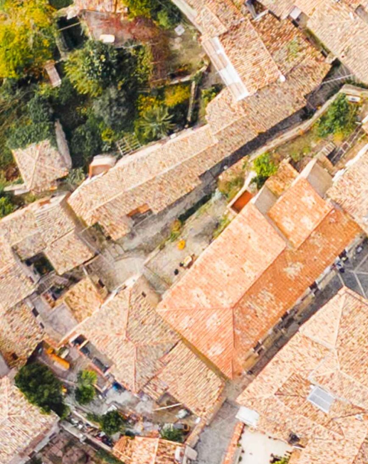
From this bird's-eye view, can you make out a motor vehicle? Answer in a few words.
No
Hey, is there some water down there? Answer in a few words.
No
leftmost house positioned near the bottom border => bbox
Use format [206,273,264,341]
[0,374,60,464]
